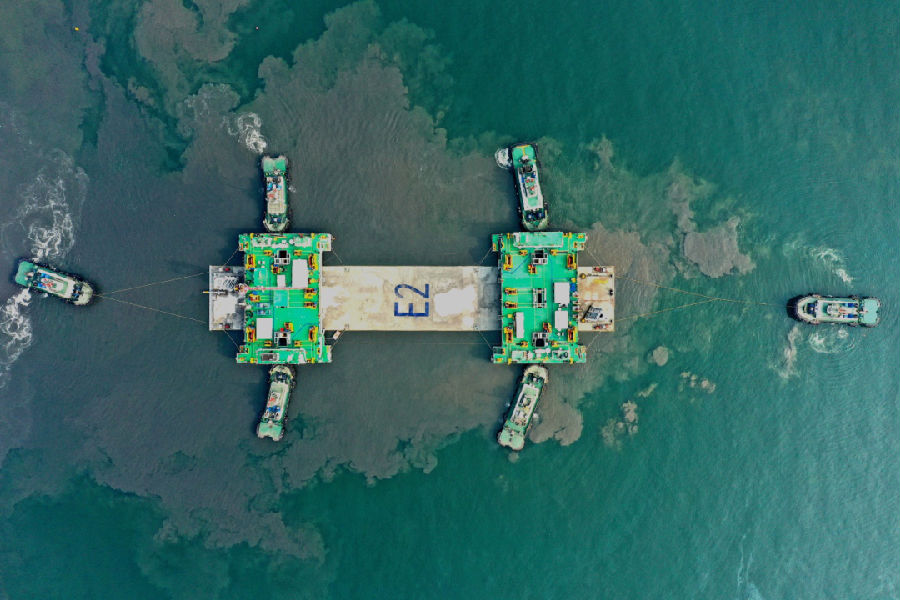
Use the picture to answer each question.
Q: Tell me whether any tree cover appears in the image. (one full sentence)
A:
No, there is no tree cover in the image.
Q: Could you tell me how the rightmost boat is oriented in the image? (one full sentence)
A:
From this overhead view, the rightmost boat appears to run from left to right.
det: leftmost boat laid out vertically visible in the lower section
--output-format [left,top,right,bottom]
[257,365,294,442]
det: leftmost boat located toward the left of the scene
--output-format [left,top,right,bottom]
[13,260,95,304]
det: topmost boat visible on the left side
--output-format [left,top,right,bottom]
[262,155,290,233]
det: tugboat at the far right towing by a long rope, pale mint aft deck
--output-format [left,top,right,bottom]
[791,294,882,325]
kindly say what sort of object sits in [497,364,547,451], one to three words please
boat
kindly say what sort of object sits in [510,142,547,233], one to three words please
boat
